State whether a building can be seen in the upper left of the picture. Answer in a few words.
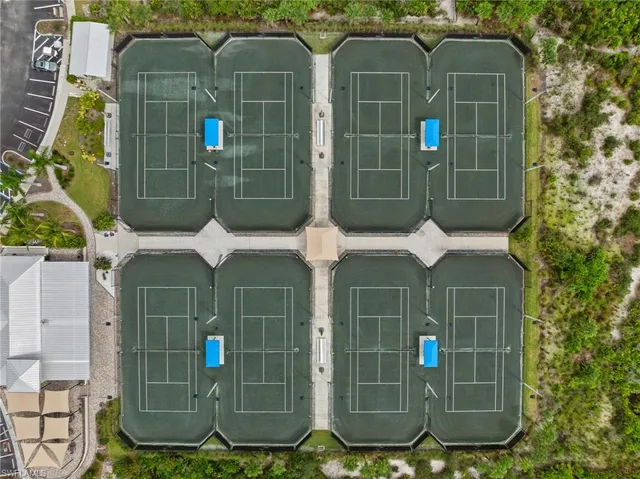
Yes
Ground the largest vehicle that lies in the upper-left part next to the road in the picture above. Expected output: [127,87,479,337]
[28,58,56,71]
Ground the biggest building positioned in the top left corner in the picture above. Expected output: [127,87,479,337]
[69,21,114,80]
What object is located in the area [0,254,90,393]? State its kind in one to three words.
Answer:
building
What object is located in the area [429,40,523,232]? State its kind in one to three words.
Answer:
tennis court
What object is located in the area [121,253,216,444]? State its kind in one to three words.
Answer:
tennis court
